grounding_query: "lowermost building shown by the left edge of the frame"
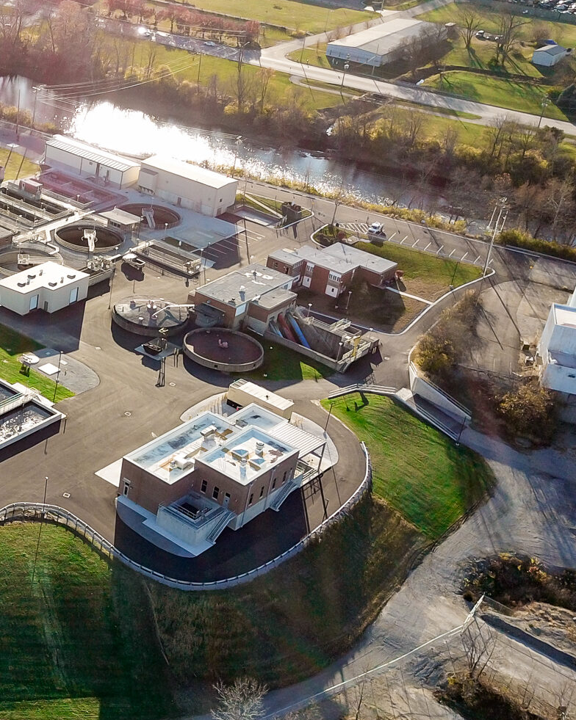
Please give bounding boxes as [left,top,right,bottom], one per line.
[0,259,90,317]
